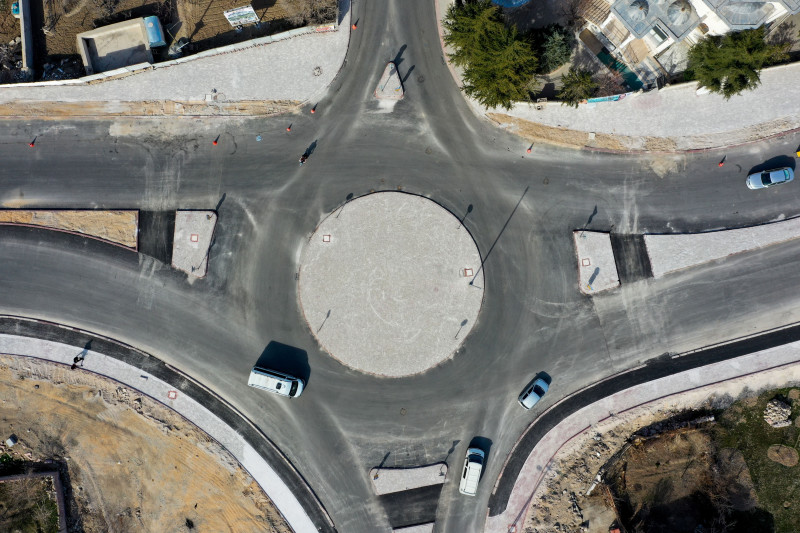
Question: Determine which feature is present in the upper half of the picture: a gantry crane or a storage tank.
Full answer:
It is a storage tank that can be seen in the upper half of the picture.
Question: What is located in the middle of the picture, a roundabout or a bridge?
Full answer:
It is a roundabout that can be seen in the middle of the picture.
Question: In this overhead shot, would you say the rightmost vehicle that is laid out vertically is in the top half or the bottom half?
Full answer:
The rightmost vehicle that is laid out vertically is in the bottom half of the image.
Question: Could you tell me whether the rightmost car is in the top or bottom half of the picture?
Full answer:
It is in the top half that the rightmost car appears.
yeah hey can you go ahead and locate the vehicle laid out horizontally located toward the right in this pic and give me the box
[745,166,795,191]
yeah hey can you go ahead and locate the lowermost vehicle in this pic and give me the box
[459,448,484,494]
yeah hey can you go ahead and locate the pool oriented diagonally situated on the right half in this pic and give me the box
[577,25,649,91]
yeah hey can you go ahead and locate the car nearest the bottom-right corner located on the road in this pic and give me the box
[517,377,549,410]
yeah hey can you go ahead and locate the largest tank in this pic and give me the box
[77,18,159,84]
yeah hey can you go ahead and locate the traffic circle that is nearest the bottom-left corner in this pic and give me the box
[298,191,484,377]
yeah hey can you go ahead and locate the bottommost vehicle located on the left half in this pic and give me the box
[249,366,305,399]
